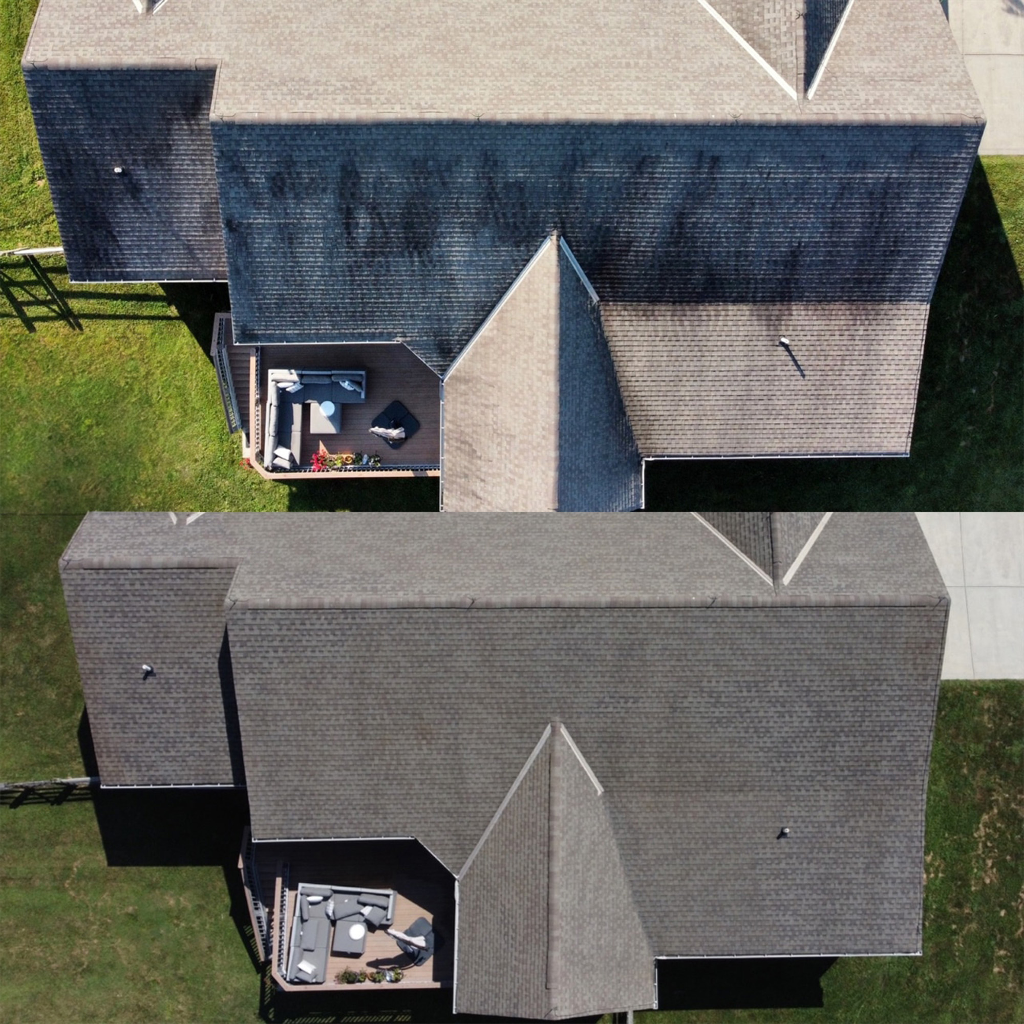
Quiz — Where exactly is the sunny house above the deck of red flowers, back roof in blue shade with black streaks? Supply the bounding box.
[23,0,986,512]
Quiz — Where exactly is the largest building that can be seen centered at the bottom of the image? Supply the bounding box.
[61,511,949,1021]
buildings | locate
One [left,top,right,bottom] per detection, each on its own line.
[23,0,986,512]
[61,511,949,1021]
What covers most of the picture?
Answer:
buildings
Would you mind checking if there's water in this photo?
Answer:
No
